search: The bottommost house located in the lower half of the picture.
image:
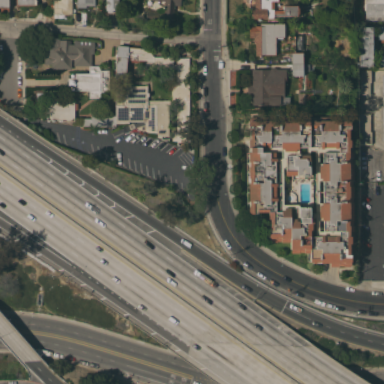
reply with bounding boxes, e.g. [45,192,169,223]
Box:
[312,236,354,266]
